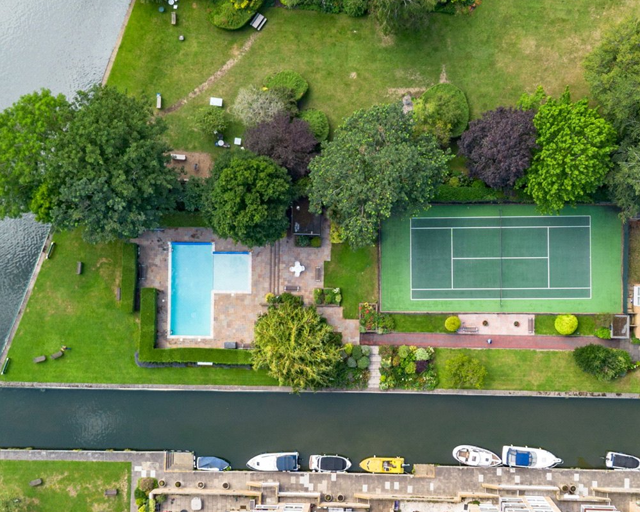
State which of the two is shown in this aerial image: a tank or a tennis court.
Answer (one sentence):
There is a tennis court in the scene.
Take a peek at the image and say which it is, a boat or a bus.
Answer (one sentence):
The image shows a boat.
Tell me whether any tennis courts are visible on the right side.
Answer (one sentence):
Yes, there is a tennis court on the right side.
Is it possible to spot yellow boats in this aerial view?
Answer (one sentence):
Yes, there is a yellow boat in the image.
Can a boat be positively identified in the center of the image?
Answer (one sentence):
No, there's no boat to be seen in the center of the image.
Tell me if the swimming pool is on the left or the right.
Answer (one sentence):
The swimming pool sits on the left side.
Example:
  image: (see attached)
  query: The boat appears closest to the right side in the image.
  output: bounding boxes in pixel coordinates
[604,451,640,468]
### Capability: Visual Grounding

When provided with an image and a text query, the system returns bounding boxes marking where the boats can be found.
[604,451,640,468]
[453,445,502,466]
[502,445,562,468]
[308,455,350,473]
[195,454,229,471]
[360,457,408,474]
[246,452,302,472]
